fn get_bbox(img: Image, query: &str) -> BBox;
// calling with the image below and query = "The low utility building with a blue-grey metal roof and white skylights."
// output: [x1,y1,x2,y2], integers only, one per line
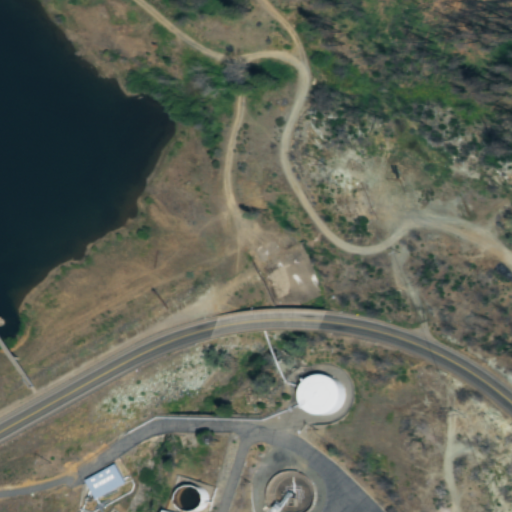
[86,464,126,500]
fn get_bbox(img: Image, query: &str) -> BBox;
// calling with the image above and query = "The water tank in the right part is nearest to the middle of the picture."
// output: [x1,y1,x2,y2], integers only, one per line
[297,372,346,418]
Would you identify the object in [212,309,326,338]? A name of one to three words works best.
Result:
bridge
